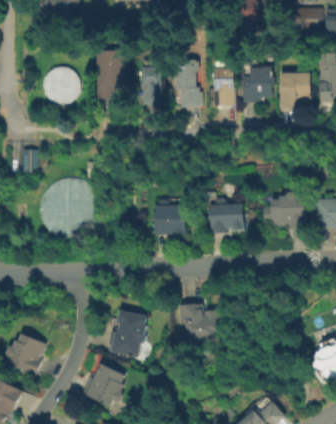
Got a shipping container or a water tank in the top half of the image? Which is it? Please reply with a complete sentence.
Visible in the top half of the image is a water tank.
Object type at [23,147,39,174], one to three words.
shed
